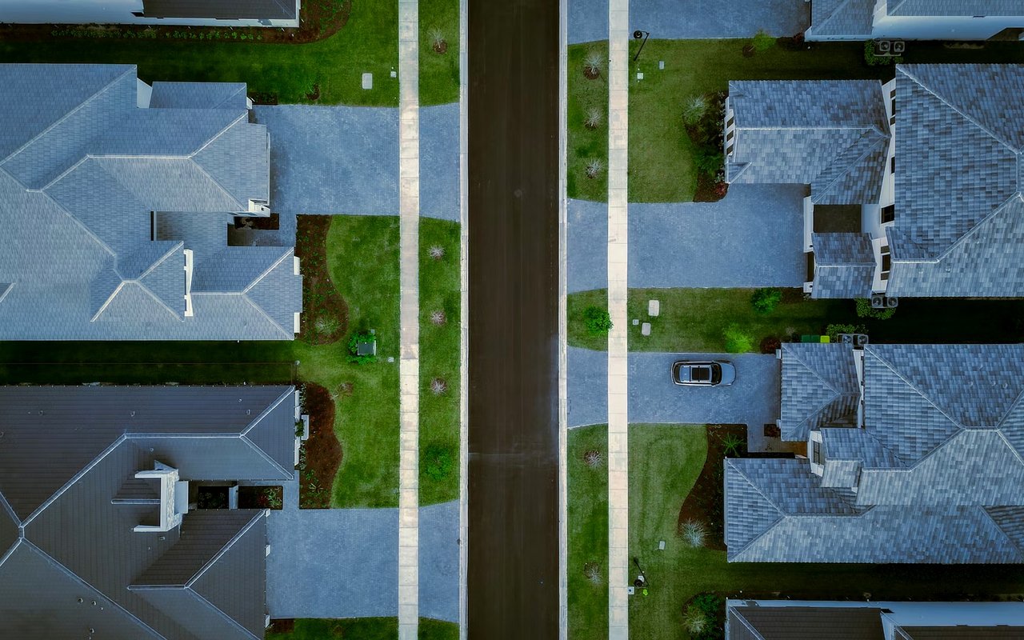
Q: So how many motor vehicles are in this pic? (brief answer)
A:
one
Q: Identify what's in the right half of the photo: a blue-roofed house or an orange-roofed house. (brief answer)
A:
blue-roofed house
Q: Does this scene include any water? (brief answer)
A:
No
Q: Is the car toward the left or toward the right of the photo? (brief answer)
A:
right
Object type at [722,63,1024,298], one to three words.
house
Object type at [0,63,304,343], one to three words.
house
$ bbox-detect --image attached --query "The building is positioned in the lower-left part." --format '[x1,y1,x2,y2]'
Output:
[0,384,299,640]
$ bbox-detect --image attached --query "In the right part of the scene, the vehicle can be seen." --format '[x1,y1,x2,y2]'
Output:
[673,360,737,388]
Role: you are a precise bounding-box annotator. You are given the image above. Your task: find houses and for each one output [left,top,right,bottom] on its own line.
[0,63,304,343]
[724,343,1024,563]
[0,0,301,26]
[725,600,1024,640]
[0,384,299,640]
[805,0,1024,40]
[722,63,1024,298]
